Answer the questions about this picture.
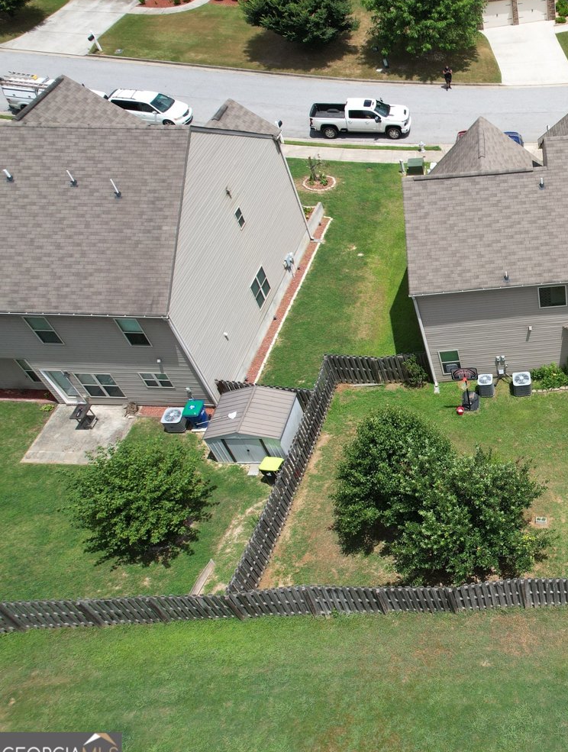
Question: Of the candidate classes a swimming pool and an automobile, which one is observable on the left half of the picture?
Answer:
automobile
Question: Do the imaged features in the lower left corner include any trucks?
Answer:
No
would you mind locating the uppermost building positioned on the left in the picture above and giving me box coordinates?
[0,73,317,408]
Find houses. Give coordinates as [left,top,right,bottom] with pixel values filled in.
[402,113,568,390]
[0,73,317,408]
[474,0,568,30]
